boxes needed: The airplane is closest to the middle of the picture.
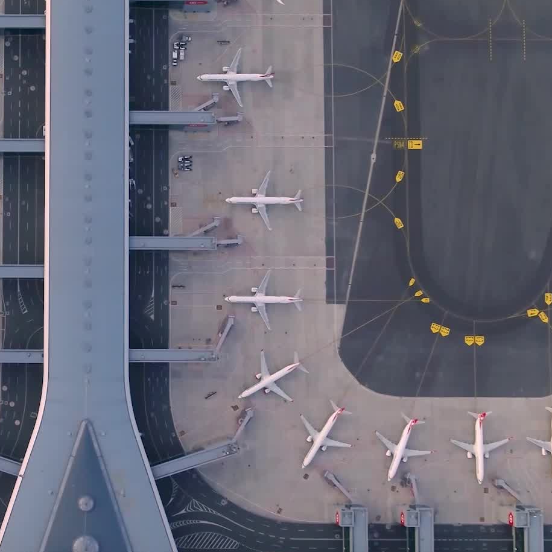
[225,269,305,330]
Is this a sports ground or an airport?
airport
